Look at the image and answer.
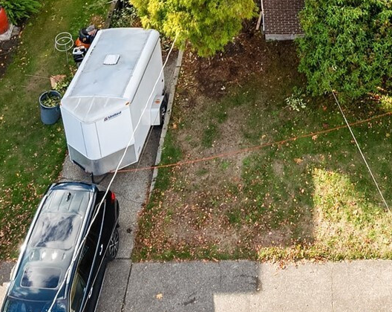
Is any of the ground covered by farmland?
No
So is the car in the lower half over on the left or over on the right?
left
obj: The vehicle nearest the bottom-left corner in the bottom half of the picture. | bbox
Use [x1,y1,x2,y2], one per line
[2,186,117,312]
